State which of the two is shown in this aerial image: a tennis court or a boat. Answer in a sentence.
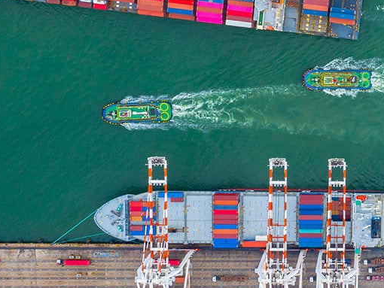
The one in the frame is a boat.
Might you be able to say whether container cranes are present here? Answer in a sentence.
Yes, there's a container crane down there.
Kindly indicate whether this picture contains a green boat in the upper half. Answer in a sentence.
Yes, a green boat can be seen in the upper half.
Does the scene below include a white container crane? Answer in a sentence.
Yes, you can see a white container crane in this photo.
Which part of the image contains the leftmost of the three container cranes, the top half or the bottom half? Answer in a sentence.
Seen from above, the leftmost of the three container cranes lies in the bottom half of the view.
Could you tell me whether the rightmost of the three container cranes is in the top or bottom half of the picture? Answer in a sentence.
It is in the bottom half that the rightmost of the three container cranes appears.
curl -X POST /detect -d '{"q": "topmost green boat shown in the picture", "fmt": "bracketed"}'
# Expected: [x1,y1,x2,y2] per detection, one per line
[302,67,372,93]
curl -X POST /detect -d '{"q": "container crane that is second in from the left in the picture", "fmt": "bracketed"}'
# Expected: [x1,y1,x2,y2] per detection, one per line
[258,159,313,288]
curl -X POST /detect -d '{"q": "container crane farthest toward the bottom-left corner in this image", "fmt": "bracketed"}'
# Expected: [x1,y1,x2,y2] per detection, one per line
[135,159,203,288]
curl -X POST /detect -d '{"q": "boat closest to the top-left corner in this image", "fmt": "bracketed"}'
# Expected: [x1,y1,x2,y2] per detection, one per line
[100,99,173,126]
